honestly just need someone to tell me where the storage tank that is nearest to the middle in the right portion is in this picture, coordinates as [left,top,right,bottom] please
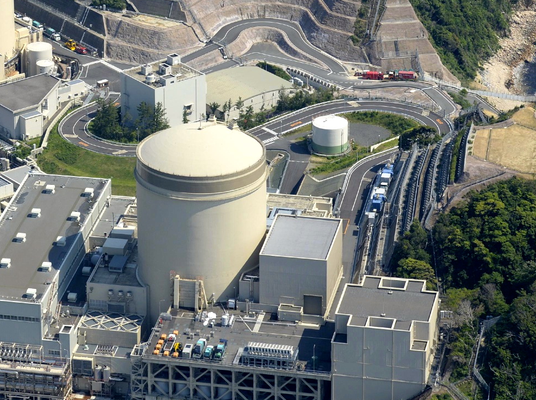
[312,113,348,153]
